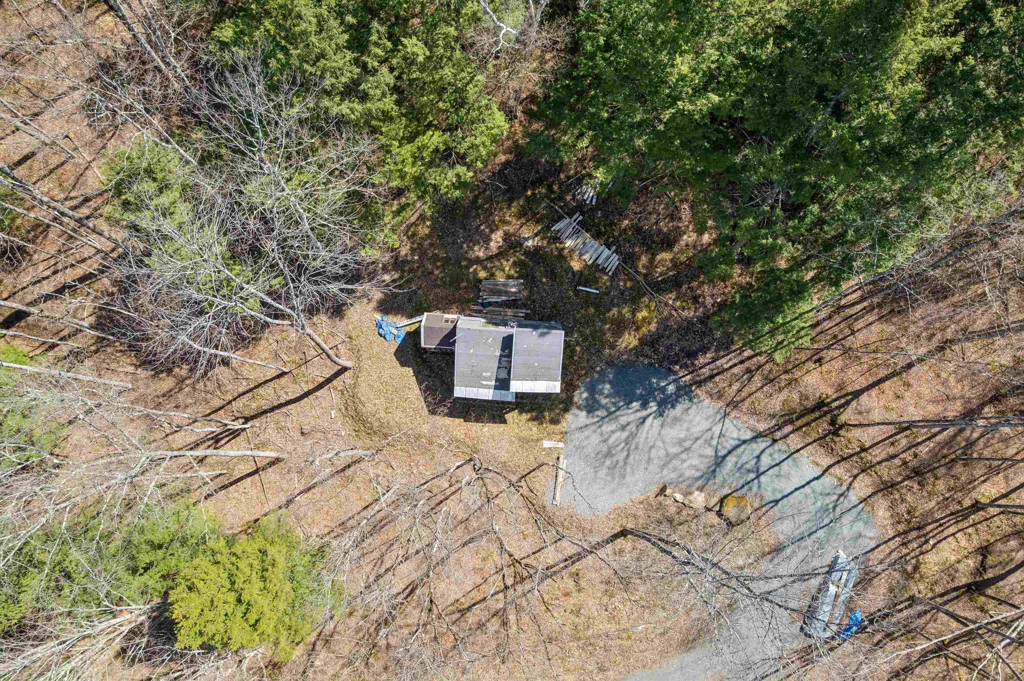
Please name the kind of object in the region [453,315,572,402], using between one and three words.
building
